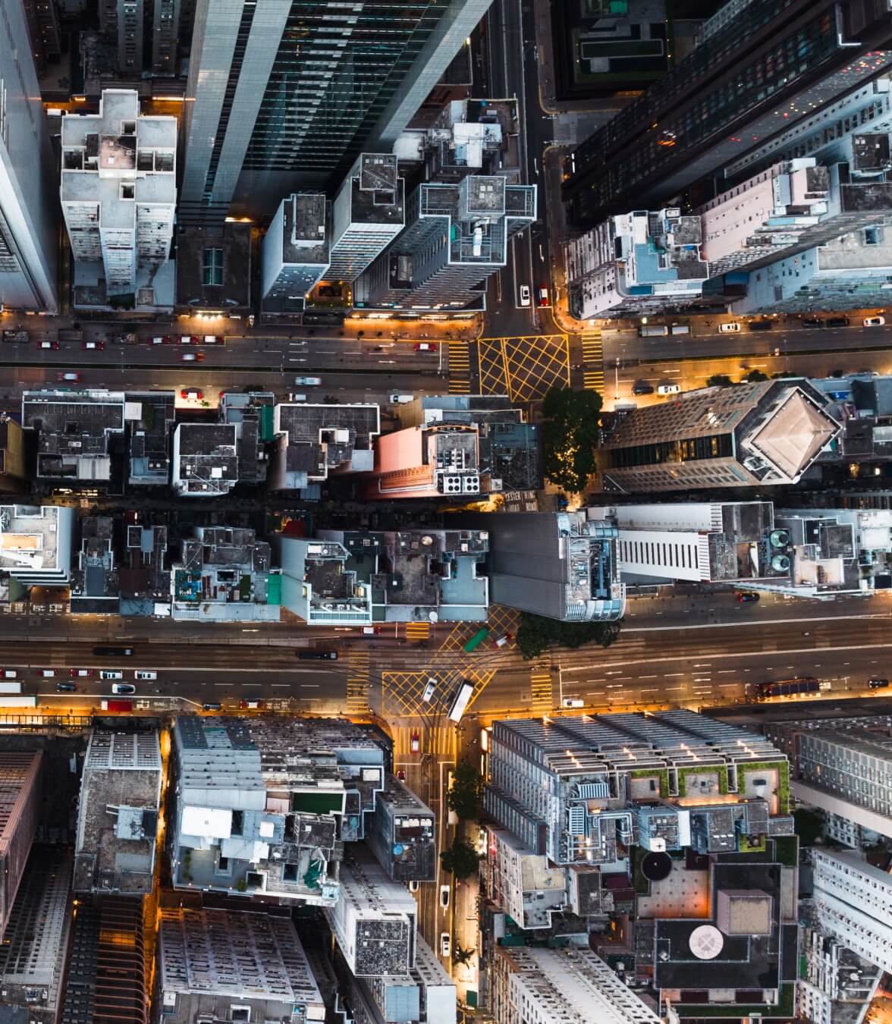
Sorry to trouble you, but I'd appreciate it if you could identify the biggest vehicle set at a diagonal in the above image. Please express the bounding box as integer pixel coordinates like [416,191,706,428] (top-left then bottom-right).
[444,677,481,725]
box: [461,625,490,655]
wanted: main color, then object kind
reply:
green vehicle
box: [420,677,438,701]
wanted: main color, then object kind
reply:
white vehicle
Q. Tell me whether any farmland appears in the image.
No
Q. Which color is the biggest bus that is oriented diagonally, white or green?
white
